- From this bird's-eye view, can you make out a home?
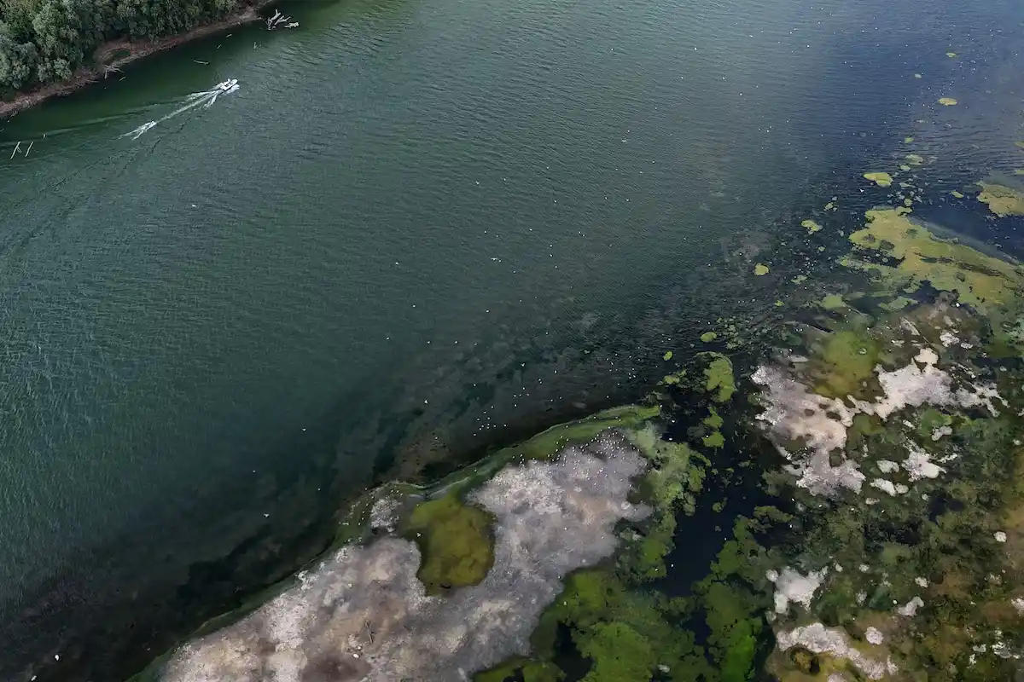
No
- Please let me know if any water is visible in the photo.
Yes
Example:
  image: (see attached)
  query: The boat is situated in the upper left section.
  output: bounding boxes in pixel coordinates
[219,76,237,91]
